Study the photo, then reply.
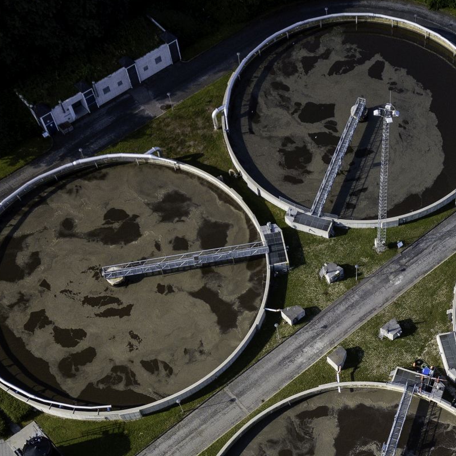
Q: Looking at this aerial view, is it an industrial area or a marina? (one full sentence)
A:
What you see here is an industrial area.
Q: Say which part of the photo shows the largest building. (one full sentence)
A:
You can find the largest building in the top left area of the picture.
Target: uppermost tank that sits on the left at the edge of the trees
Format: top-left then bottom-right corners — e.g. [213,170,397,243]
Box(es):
[0,148,290,421]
